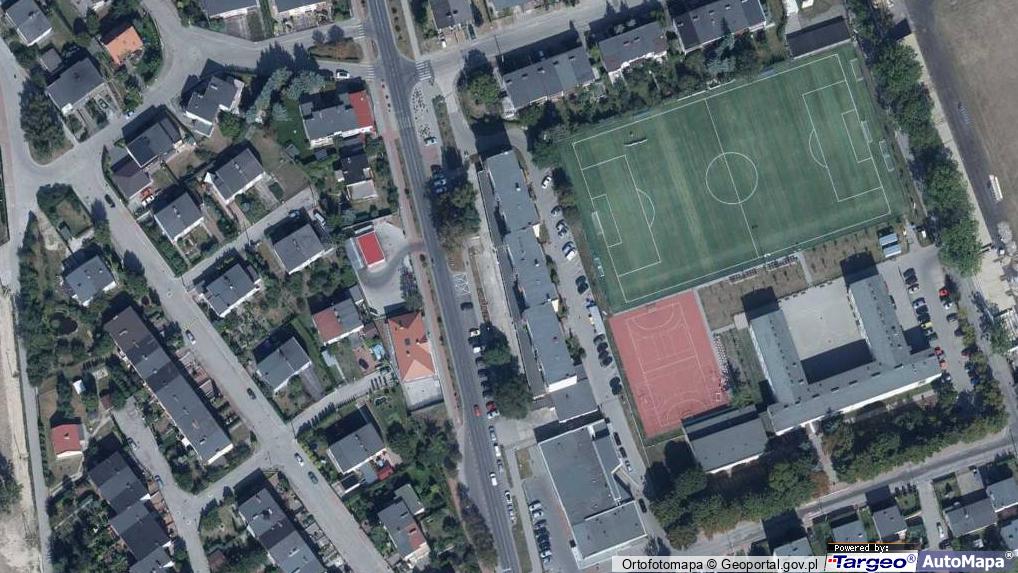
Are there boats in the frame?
No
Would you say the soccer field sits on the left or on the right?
right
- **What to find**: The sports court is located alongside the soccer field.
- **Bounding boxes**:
[609,290,731,438]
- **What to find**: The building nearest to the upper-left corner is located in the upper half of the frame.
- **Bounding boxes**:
[5,0,53,49]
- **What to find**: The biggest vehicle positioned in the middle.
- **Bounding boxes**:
[589,302,607,333]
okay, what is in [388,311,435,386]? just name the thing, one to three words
building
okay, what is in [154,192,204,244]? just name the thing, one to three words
house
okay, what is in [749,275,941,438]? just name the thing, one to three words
building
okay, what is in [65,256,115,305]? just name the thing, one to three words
house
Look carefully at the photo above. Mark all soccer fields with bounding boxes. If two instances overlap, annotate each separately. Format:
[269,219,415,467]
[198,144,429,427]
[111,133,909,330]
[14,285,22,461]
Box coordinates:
[559,40,906,313]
